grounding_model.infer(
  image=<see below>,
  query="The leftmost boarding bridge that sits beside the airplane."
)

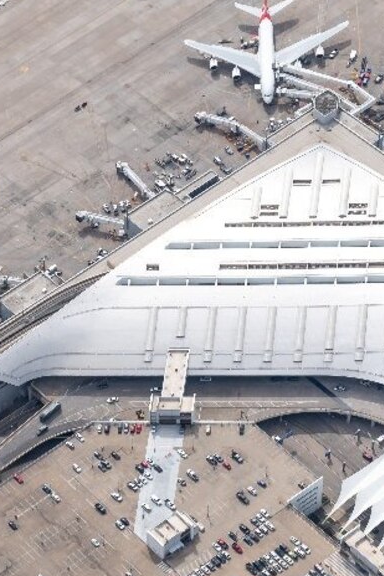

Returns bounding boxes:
[196,111,267,151]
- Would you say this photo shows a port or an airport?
airport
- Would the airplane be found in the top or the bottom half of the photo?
top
